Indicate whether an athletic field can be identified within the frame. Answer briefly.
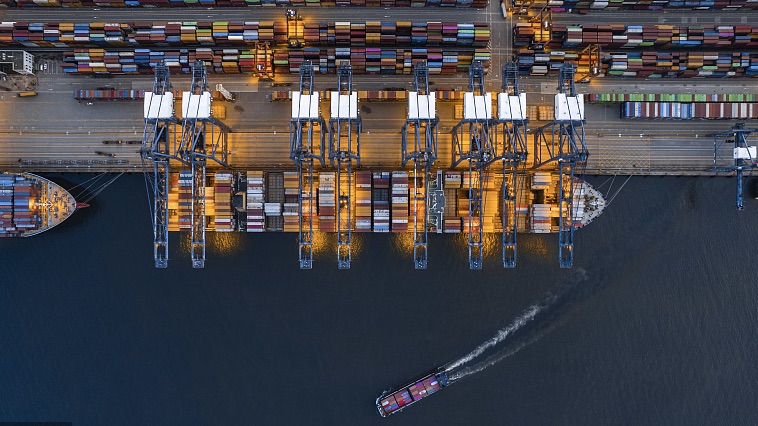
No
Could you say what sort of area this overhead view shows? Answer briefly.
port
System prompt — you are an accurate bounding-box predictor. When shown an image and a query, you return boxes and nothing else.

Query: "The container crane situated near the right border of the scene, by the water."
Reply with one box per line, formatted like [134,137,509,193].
[695,119,758,210]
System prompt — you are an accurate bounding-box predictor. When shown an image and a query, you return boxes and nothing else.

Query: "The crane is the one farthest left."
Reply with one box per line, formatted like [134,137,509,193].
[135,61,196,268]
